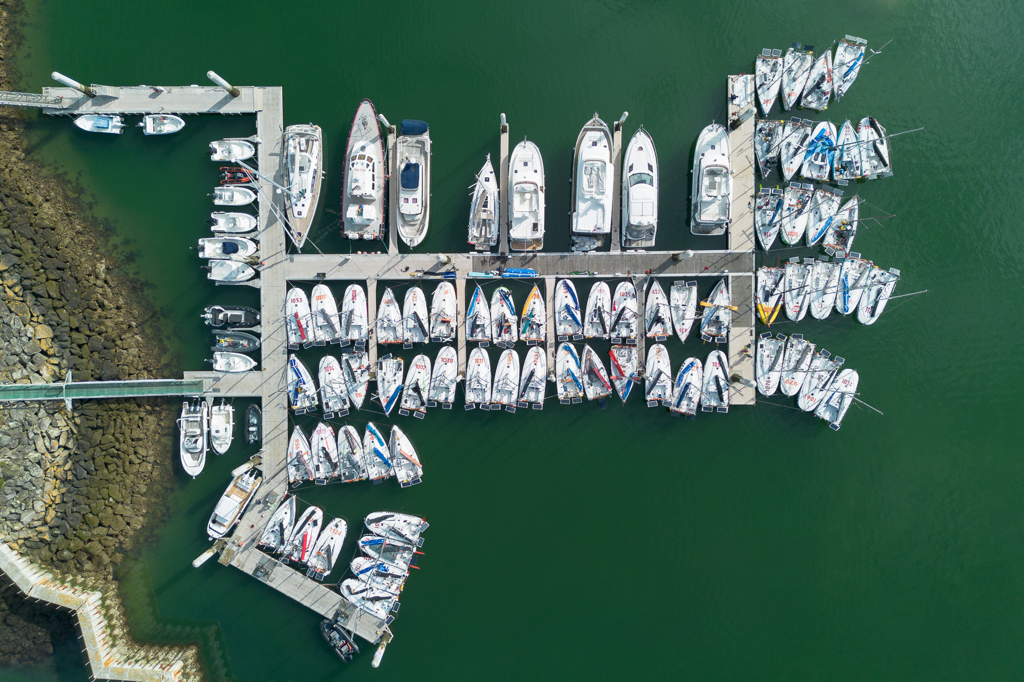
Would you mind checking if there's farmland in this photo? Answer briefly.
No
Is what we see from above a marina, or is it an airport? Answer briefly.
marina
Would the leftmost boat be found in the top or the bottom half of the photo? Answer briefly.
top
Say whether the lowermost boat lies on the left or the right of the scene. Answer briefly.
left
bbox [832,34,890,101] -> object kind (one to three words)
boat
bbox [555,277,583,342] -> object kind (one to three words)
boat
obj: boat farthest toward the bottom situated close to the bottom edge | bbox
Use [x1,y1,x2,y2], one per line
[320,620,360,666]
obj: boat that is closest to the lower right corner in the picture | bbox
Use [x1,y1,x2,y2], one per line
[816,368,881,432]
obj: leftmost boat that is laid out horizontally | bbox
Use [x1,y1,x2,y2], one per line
[74,113,130,133]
